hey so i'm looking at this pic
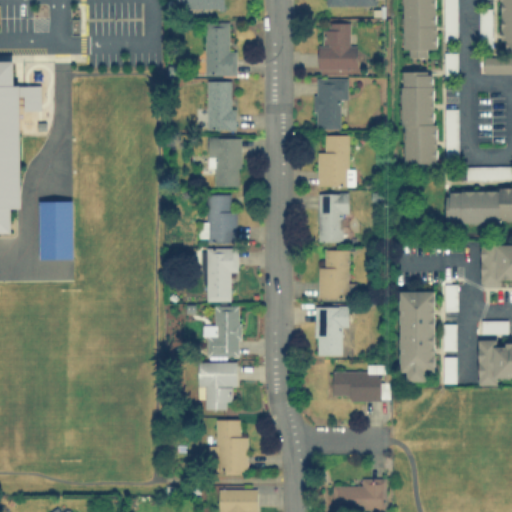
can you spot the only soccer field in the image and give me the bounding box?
[20,291,120,461]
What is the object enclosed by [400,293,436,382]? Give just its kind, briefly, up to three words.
building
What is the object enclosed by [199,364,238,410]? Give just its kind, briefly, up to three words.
house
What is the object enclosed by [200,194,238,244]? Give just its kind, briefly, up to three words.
house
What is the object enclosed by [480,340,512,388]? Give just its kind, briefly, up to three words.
building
